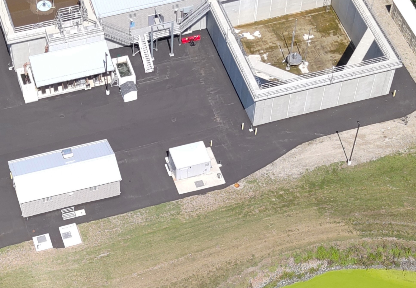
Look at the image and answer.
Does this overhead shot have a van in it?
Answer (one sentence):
No, there appears to be no van in this shot.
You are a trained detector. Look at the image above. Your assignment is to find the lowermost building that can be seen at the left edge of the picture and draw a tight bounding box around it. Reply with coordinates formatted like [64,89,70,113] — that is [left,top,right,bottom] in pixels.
[9,139,122,218]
